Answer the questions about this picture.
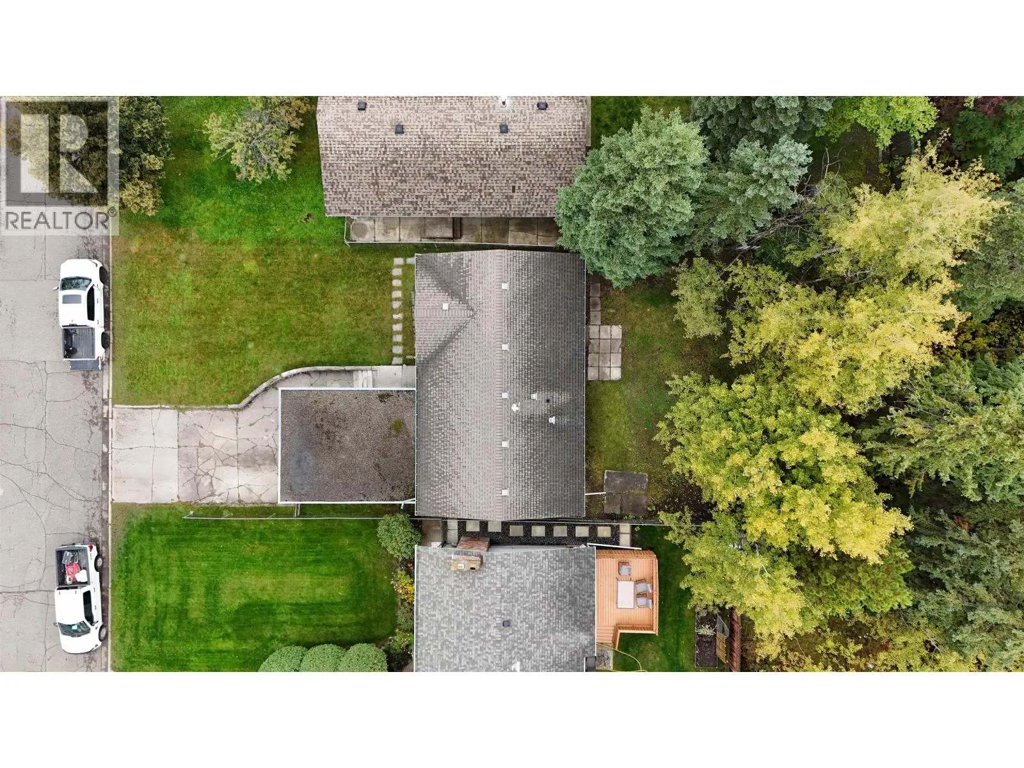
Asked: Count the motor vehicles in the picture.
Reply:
2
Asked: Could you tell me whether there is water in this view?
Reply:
No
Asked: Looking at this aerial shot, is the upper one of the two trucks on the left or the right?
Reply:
left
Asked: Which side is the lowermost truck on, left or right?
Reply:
left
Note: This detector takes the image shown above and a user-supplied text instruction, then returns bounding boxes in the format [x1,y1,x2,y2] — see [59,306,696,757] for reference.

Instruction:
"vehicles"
[55,260,107,369]
[56,541,109,653]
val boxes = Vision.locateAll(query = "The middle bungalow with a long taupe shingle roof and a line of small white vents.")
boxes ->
[403,249,604,521]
